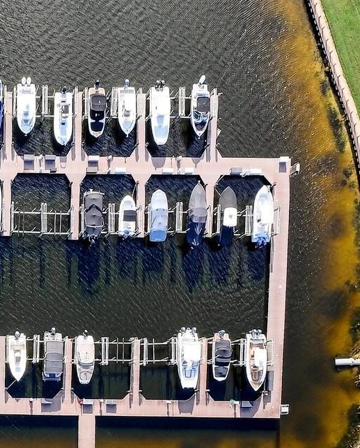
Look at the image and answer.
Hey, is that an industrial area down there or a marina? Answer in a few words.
marina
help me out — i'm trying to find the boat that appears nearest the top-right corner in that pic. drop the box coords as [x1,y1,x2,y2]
[190,77,211,140]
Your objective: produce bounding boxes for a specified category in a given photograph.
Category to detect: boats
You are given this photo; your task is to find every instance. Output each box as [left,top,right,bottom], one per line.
[75,329,95,384]
[117,81,135,138]
[150,80,170,145]
[218,185,237,246]
[17,76,36,135]
[148,189,167,243]
[42,326,64,380]
[186,181,206,249]
[82,191,103,246]
[246,327,266,392]
[119,195,136,243]
[212,326,233,380]
[53,85,73,145]
[251,183,273,251]
[88,81,107,137]
[9,329,26,383]
[177,328,200,388]
[190,77,211,140]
